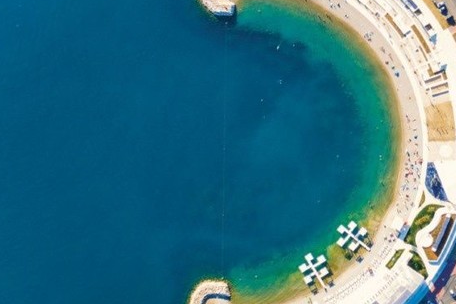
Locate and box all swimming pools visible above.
[425,161,446,202]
